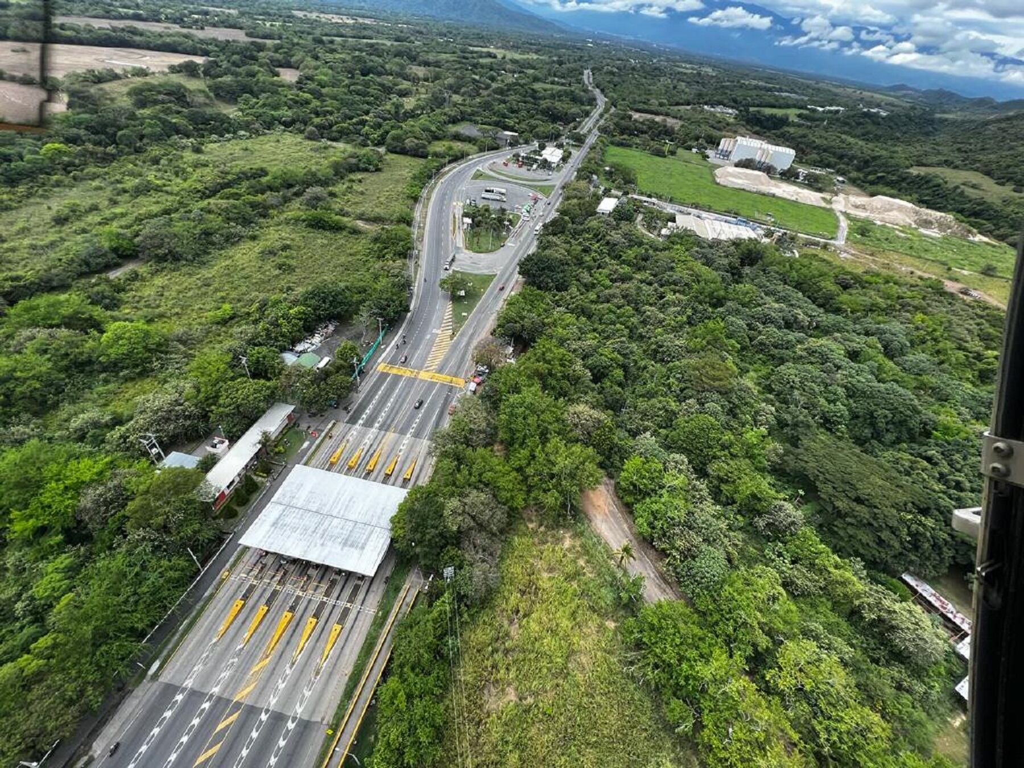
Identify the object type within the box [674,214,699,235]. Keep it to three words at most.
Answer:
building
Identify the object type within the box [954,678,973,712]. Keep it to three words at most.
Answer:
shed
